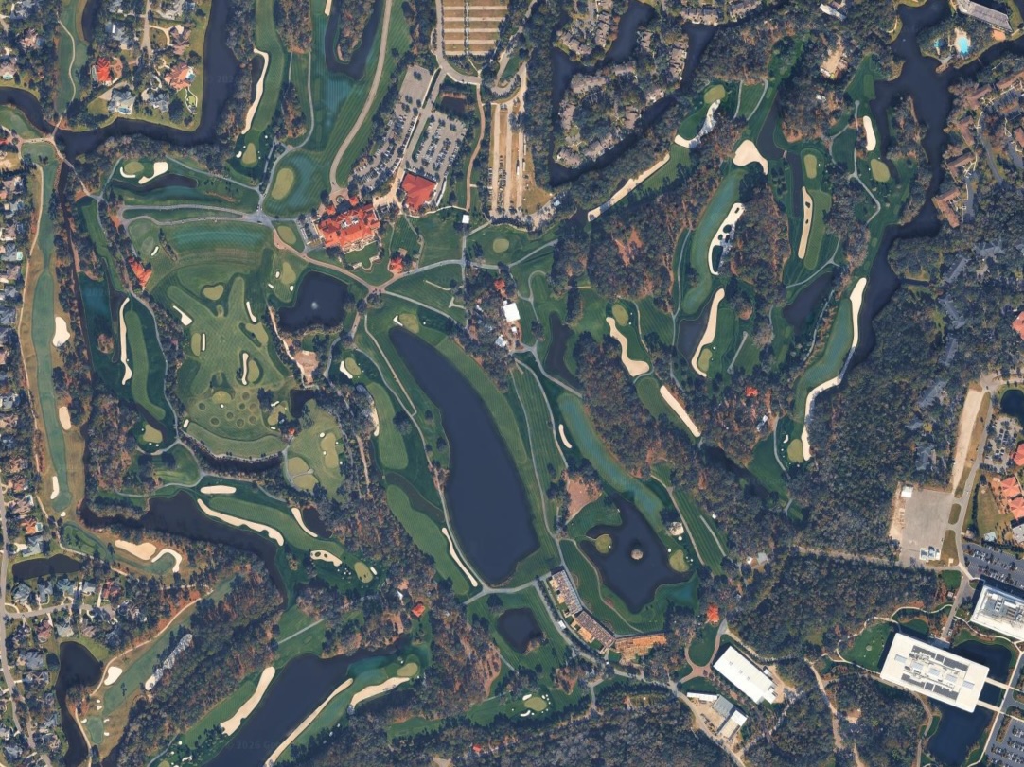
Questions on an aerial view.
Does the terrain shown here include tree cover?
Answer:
Yes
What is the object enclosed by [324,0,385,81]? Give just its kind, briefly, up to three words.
pond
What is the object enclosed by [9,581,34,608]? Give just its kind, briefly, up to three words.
house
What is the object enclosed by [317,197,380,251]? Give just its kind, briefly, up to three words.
building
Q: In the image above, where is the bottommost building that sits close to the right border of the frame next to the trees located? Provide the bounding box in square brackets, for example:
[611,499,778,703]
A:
[882,634,991,713]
